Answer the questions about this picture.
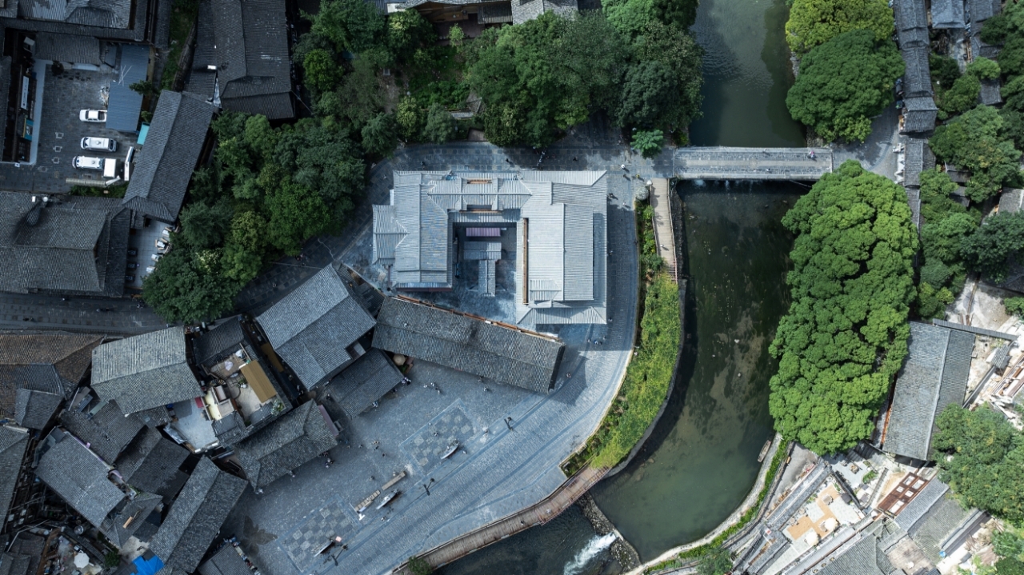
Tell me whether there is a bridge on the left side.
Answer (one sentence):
No, I can find no bridge on the left side.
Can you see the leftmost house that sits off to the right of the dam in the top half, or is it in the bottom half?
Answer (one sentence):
The leftmost house that sits off to the right of the dam sits in the bottom half of the picture.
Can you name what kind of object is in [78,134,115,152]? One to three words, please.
vehicle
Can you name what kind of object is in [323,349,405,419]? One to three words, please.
house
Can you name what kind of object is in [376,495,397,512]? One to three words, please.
boat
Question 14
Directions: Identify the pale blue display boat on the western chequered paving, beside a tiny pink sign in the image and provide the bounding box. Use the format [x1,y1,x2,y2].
[312,544,331,560]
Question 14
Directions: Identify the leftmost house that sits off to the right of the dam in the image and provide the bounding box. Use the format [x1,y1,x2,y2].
[755,462,833,532]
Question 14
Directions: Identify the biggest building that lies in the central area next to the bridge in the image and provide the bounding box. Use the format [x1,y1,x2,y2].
[372,169,607,325]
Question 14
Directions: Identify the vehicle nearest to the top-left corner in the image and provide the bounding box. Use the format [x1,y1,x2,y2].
[76,106,107,123]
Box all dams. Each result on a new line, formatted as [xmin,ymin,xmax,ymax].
[575,490,639,570]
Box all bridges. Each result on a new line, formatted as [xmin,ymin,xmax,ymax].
[673,144,834,178]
